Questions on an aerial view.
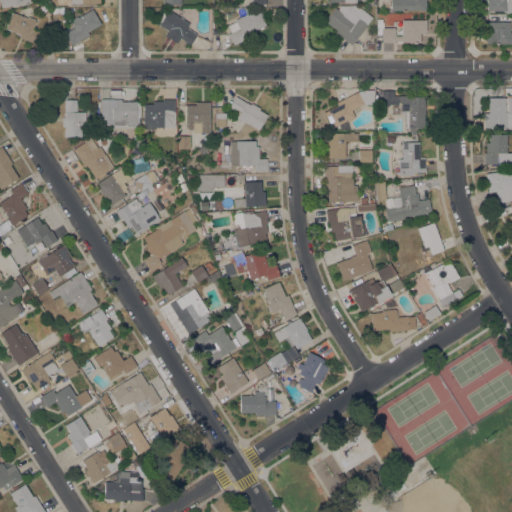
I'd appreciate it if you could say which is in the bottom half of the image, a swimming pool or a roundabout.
swimming pool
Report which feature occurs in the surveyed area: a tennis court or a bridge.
tennis court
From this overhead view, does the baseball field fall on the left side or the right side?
right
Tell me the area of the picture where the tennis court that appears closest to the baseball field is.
bottom right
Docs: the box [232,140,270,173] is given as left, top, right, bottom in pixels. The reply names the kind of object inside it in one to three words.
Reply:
house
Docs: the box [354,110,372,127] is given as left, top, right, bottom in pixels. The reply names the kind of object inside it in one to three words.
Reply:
swimming pool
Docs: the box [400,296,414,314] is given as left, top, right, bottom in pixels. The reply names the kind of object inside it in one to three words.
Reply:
swimming pool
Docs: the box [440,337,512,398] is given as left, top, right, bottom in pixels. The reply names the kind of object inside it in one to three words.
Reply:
tennis court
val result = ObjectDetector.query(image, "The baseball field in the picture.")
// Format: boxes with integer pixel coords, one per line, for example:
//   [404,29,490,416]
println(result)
[393,458,470,512]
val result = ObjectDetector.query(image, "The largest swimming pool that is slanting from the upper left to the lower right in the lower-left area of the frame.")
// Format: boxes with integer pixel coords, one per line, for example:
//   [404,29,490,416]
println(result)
[94,375,114,390]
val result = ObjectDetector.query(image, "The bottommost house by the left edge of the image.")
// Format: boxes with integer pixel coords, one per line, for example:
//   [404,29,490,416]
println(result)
[9,481,47,512]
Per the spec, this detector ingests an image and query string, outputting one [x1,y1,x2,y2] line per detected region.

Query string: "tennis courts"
[379,376,454,437]
[454,362,512,425]
[440,337,512,398]
[394,398,472,462]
